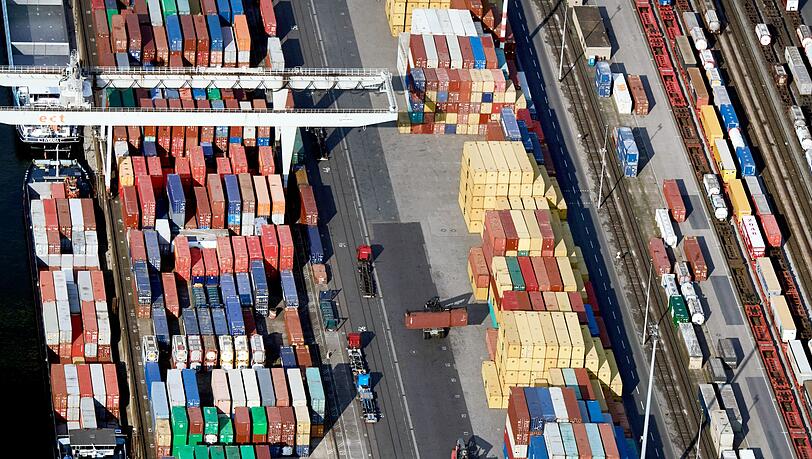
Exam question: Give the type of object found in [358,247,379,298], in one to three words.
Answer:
vehicle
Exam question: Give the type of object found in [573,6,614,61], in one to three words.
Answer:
building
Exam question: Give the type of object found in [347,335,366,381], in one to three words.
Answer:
vehicle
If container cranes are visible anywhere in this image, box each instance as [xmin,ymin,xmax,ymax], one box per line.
[0,48,399,193]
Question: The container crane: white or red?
white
